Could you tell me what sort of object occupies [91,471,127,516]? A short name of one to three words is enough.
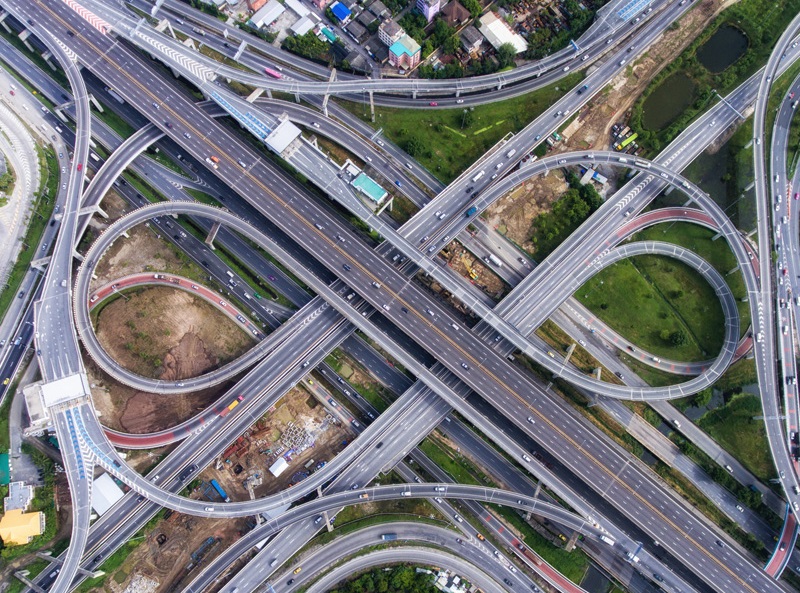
shed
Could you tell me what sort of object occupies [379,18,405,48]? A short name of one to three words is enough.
building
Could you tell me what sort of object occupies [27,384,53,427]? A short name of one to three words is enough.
building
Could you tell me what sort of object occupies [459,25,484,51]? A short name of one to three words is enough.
house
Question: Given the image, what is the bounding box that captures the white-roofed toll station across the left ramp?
[41,355,91,408]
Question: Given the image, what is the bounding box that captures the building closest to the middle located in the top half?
[339,159,394,215]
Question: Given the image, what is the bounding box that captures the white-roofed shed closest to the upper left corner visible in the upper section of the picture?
[249,0,286,31]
